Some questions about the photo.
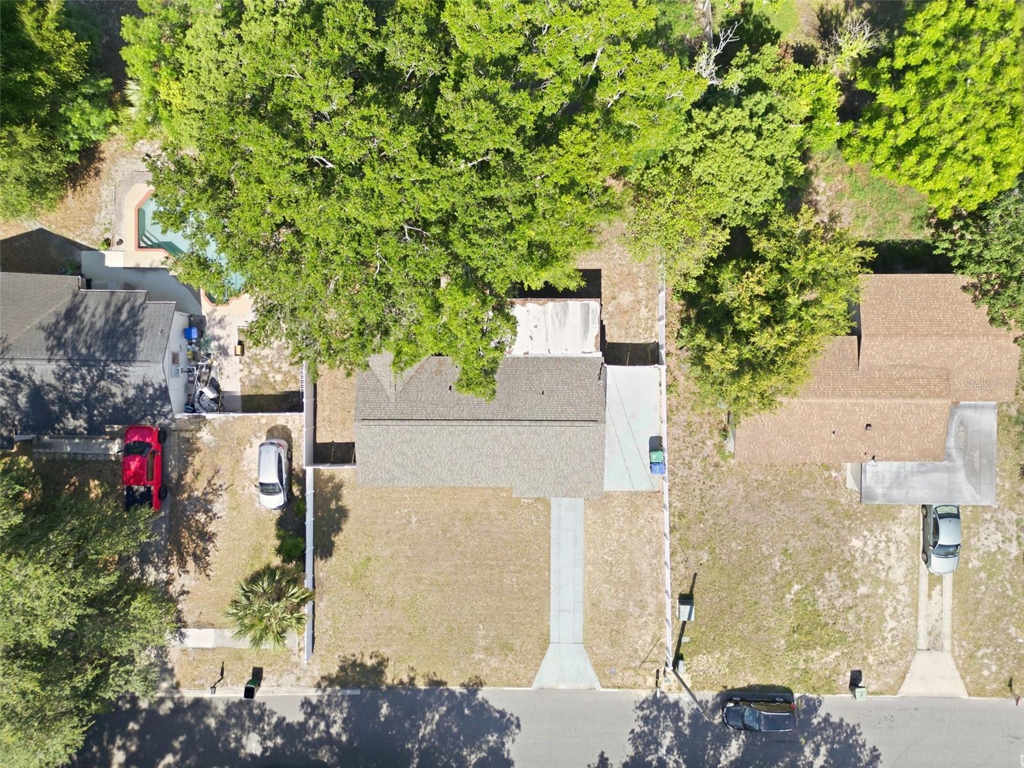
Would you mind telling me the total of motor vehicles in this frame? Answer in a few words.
4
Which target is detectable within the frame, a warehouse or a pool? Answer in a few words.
pool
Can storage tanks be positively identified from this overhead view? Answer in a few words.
No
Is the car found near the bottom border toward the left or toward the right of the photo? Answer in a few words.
right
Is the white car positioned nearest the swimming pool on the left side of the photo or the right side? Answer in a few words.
left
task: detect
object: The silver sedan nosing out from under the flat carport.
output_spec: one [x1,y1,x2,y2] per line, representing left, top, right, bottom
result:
[923,505,964,574]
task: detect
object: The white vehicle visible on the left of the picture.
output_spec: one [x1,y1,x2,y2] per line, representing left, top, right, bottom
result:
[255,439,291,509]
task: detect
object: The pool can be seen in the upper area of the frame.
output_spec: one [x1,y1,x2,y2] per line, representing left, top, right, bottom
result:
[133,189,259,310]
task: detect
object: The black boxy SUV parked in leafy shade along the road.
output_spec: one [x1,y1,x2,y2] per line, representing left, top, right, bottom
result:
[721,698,796,737]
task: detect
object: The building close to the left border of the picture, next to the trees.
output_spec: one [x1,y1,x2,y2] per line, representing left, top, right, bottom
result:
[0,270,190,449]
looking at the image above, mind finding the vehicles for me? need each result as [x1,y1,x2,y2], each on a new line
[122,425,164,509]
[255,439,291,509]
[721,698,796,737]
[923,505,964,574]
